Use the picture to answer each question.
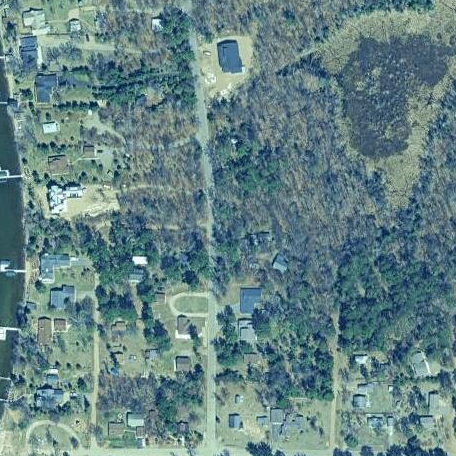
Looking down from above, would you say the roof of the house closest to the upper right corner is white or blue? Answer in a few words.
blue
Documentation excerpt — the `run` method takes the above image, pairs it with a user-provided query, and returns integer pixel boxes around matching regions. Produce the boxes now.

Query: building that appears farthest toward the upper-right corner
[217,39,245,73]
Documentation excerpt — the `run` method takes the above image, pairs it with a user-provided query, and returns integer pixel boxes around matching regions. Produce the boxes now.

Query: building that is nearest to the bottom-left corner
[37,389,63,408]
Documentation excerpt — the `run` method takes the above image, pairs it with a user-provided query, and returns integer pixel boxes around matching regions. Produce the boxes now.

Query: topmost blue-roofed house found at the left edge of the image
[21,37,41,66]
